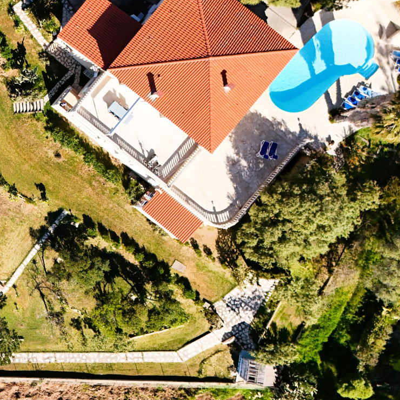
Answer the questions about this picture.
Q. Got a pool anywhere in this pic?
Yes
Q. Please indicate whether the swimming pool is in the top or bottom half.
top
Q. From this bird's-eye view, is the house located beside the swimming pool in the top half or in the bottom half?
top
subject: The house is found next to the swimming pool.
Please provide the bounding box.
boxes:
[52,0,301,152]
